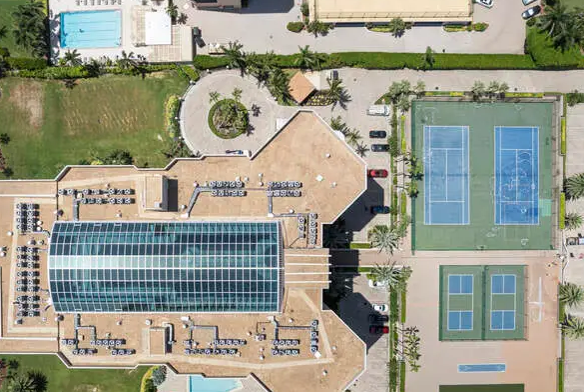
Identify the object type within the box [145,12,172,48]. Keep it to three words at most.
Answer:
building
